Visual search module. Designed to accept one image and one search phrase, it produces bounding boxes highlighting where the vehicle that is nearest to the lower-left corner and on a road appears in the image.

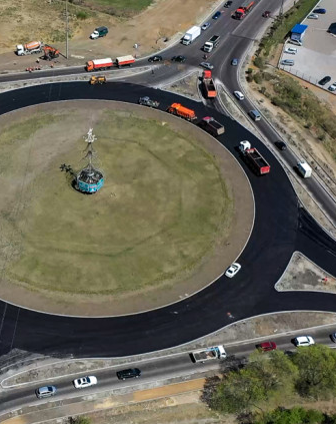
[35,383,58,397]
